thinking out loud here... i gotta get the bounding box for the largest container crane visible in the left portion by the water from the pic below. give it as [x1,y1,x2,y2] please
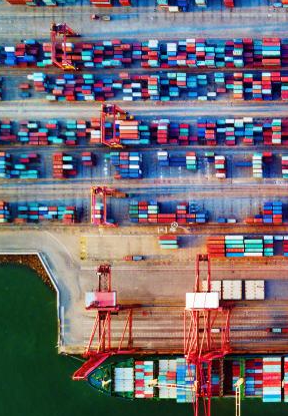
[70,265,151,386]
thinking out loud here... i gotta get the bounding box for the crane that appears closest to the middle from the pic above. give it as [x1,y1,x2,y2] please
[91,188,121,231]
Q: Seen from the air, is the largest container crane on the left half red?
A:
Yes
